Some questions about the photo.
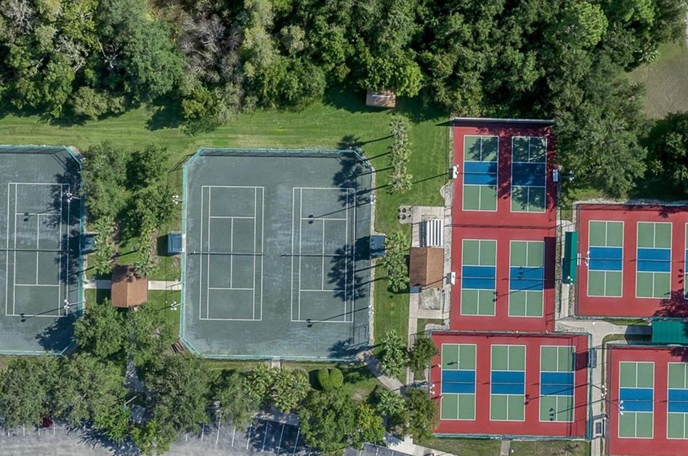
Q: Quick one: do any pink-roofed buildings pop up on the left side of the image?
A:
No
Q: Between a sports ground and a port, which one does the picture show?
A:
sports ground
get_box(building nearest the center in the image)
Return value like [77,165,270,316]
[410,247,444,288]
